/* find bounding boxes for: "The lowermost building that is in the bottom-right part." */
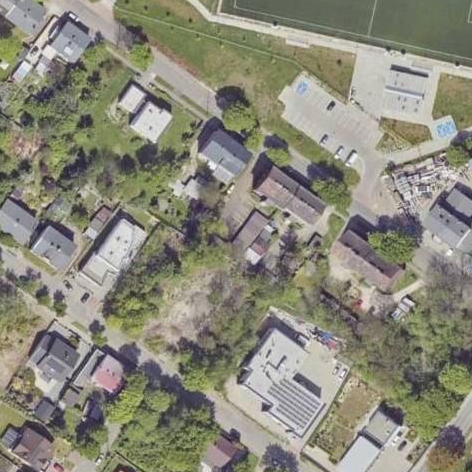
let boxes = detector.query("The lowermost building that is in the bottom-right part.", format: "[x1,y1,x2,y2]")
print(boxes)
[334,430,371,471]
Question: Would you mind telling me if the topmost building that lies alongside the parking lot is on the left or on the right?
right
